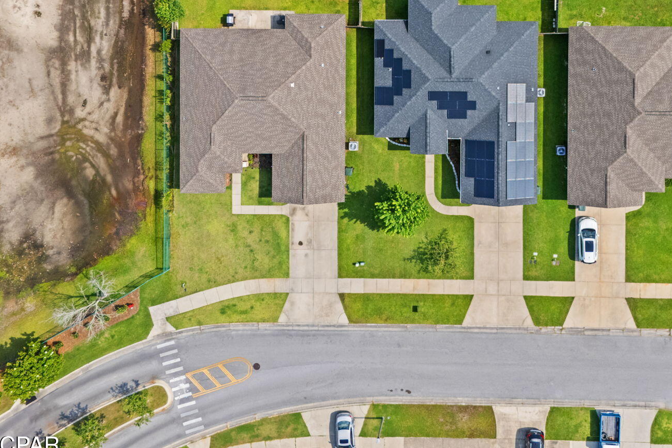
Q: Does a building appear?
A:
Yes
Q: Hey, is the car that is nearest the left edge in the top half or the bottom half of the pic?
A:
bottom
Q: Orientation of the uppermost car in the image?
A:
up and down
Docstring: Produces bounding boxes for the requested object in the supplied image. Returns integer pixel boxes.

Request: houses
[374,0,538,206]
[567,26,672,208]
[179,13,346,204]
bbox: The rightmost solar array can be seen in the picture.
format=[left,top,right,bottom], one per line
[507,84,535,198]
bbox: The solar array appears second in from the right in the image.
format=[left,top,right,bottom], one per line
[465,140,494,198]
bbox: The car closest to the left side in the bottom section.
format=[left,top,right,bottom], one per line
[335,411,357,448]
